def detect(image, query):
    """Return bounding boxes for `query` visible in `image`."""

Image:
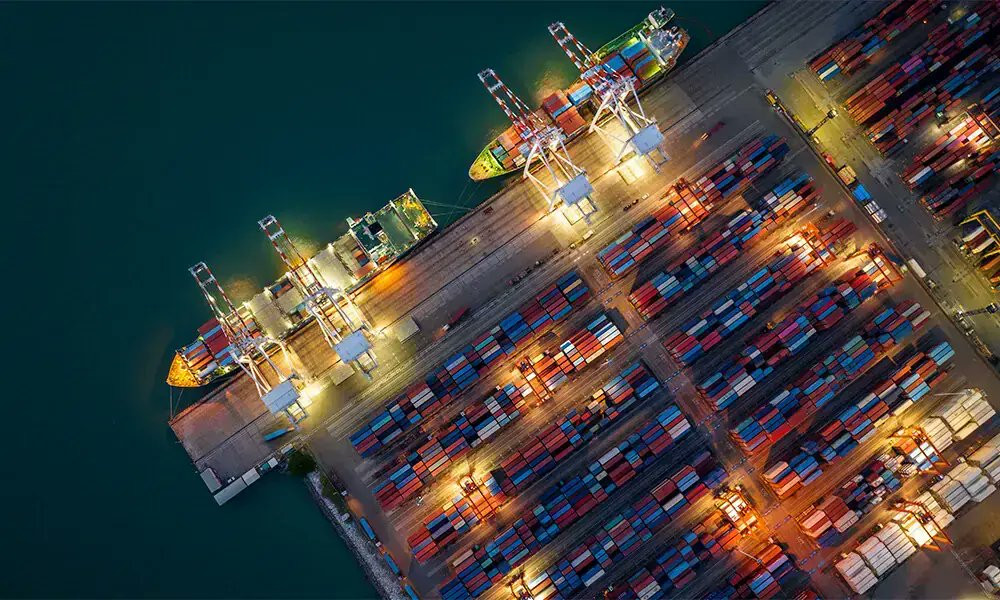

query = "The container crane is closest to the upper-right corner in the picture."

[939,99,1000,159]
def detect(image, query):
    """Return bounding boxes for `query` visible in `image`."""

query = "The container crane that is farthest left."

[190,260,318,426]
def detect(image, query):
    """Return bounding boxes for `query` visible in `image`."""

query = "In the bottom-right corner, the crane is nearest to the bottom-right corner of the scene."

[887,495,959,556]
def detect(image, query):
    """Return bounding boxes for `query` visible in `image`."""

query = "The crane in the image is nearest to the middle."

[511,354,558,405]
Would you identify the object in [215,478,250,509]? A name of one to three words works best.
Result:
shed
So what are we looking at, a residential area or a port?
port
